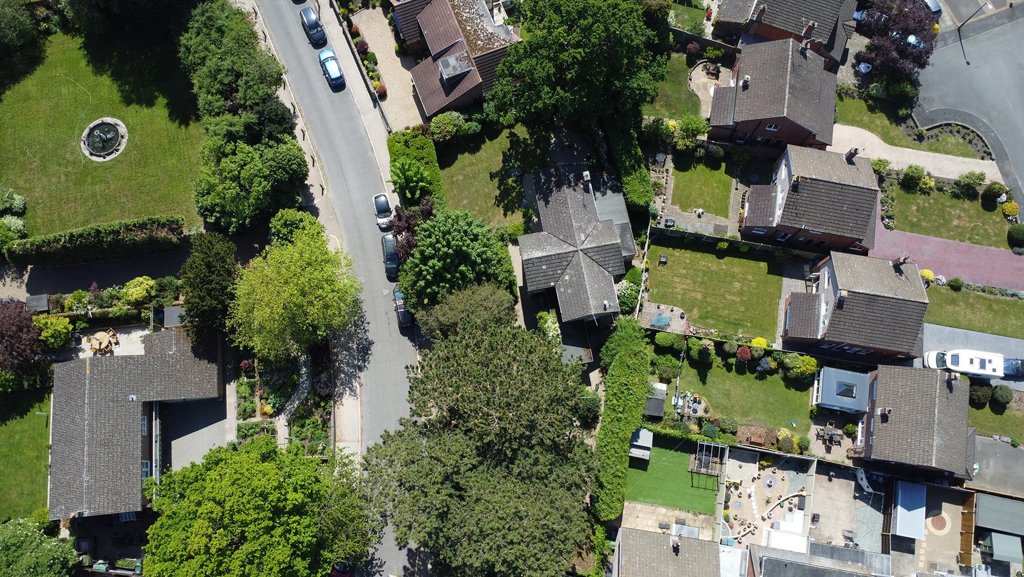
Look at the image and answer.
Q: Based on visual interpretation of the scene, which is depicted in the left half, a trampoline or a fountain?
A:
fountain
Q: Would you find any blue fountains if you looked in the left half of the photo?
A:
No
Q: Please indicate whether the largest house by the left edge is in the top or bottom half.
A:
bottom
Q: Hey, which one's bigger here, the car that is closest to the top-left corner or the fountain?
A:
the fountain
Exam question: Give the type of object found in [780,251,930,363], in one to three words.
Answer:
house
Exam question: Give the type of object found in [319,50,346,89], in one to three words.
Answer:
car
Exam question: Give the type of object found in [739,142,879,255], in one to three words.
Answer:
house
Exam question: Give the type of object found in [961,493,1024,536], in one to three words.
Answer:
shed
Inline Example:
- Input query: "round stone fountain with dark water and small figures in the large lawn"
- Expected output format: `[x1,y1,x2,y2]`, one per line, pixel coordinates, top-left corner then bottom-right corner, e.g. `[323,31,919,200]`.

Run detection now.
[80,118,128,160]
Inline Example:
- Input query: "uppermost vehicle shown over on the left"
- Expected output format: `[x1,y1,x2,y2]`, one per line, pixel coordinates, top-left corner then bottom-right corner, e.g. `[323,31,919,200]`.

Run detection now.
[300,8,328,48]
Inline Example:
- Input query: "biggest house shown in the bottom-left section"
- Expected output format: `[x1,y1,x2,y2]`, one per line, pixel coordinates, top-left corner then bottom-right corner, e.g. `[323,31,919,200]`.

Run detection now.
[47,327,226,520]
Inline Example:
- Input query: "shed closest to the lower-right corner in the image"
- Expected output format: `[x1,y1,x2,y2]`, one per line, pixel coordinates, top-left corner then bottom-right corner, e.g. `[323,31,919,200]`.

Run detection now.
[973,531,1022,564]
